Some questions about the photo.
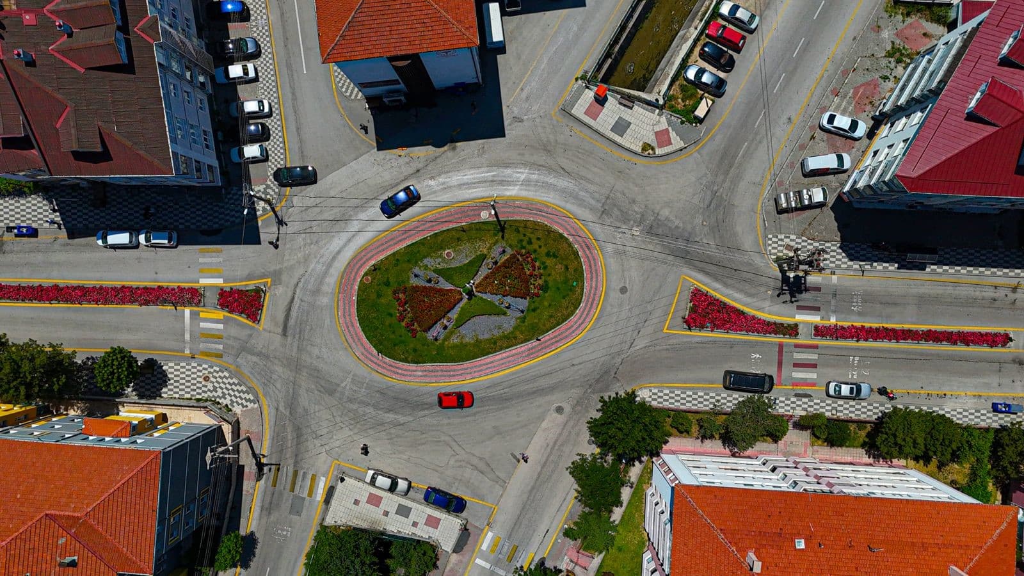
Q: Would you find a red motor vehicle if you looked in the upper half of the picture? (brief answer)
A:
Yes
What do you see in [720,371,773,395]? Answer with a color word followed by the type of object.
black vehicle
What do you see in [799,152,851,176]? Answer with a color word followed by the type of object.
white vehicle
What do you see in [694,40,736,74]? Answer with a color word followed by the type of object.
black car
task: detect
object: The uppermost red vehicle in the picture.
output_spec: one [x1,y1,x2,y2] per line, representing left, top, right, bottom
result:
[702,22,749,54]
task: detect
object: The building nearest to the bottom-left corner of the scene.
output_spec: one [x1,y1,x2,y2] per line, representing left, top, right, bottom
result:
[0,401,222,576]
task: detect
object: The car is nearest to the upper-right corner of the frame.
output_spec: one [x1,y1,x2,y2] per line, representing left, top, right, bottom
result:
[815,110,866,142]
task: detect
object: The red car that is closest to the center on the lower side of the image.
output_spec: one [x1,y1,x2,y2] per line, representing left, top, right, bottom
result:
[437,390,473,410]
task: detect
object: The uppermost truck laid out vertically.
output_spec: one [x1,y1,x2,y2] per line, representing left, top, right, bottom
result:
[482,0,504,54]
